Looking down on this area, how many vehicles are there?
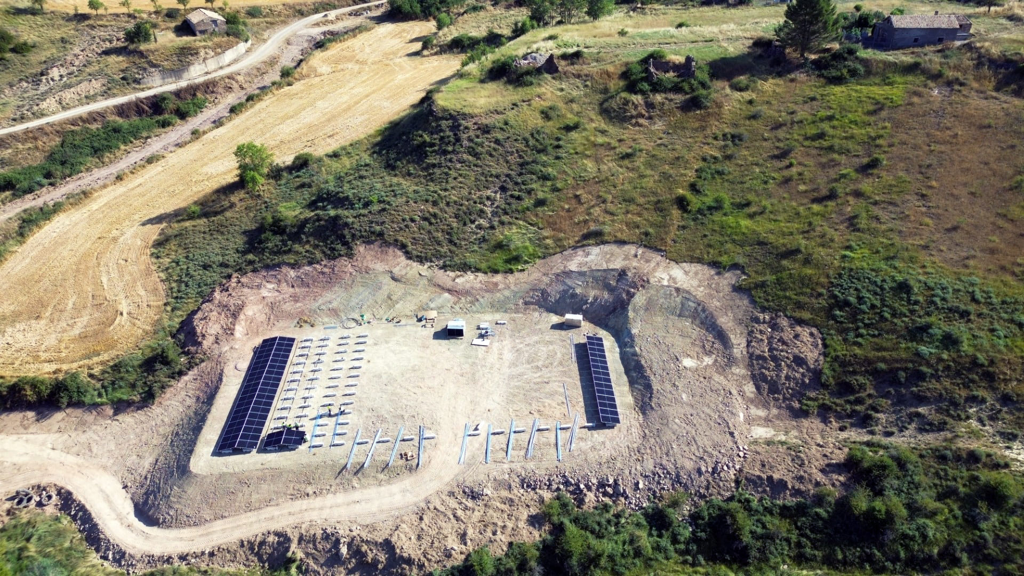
0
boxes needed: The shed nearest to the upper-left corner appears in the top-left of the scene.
[186,8,230,40]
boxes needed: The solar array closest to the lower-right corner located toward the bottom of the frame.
[586,334,621,427]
